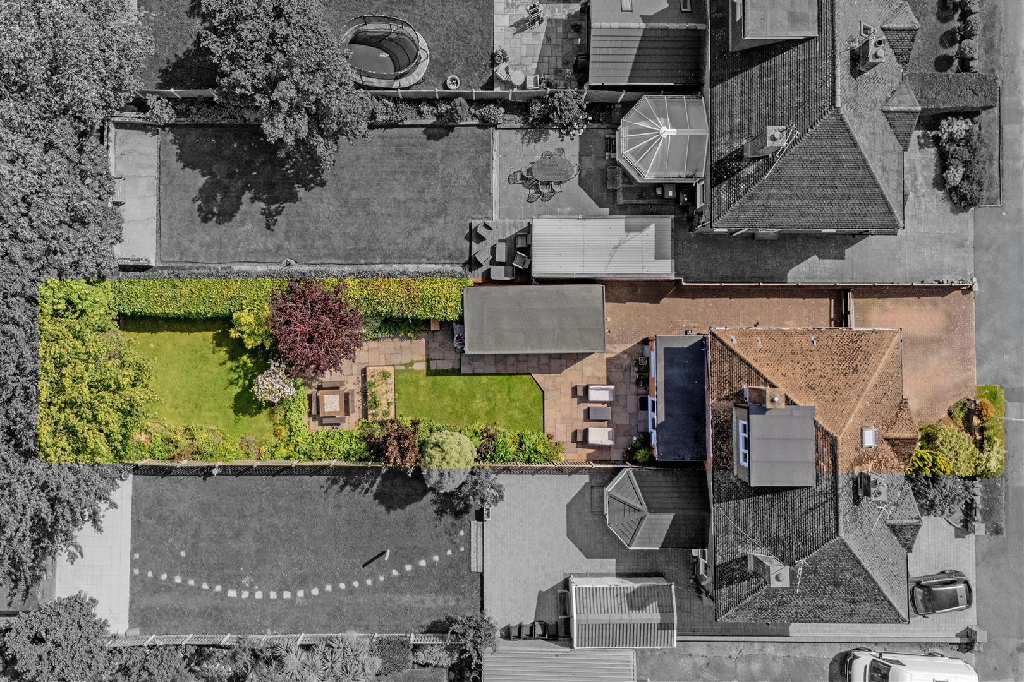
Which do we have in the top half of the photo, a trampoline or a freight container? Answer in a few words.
trampoline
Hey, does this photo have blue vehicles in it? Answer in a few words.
No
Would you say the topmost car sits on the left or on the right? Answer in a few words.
right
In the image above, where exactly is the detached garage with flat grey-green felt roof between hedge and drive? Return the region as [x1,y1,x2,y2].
[464,283,610,354]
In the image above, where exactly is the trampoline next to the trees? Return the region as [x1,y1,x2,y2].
[339,11,429,89]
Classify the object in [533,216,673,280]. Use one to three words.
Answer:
building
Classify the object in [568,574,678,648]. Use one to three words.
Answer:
building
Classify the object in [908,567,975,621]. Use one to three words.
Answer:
car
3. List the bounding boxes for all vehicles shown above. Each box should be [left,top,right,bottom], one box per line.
[843,643,970,682]
[908,567,975,621]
